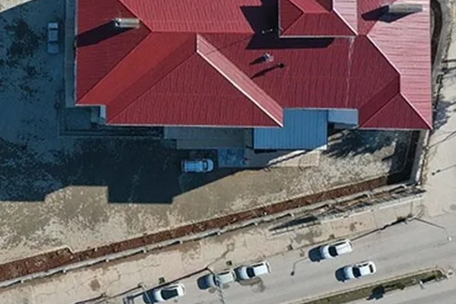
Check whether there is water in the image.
No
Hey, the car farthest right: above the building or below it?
below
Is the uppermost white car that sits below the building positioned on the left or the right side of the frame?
right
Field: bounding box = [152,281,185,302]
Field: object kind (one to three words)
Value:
car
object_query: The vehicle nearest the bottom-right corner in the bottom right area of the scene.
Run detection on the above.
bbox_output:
[342,258,376,279]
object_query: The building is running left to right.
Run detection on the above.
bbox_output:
[60,0,432,149]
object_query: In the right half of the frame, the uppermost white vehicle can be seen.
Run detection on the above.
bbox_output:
[320,239,353,258]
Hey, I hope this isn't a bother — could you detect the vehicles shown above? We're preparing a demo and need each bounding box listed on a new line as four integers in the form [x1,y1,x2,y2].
[320,239,353,258]
[342,258,376,279]
[238,259,270,279]
[46,22,60,54]
[208,268,239,286]
[152,281,185,302]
